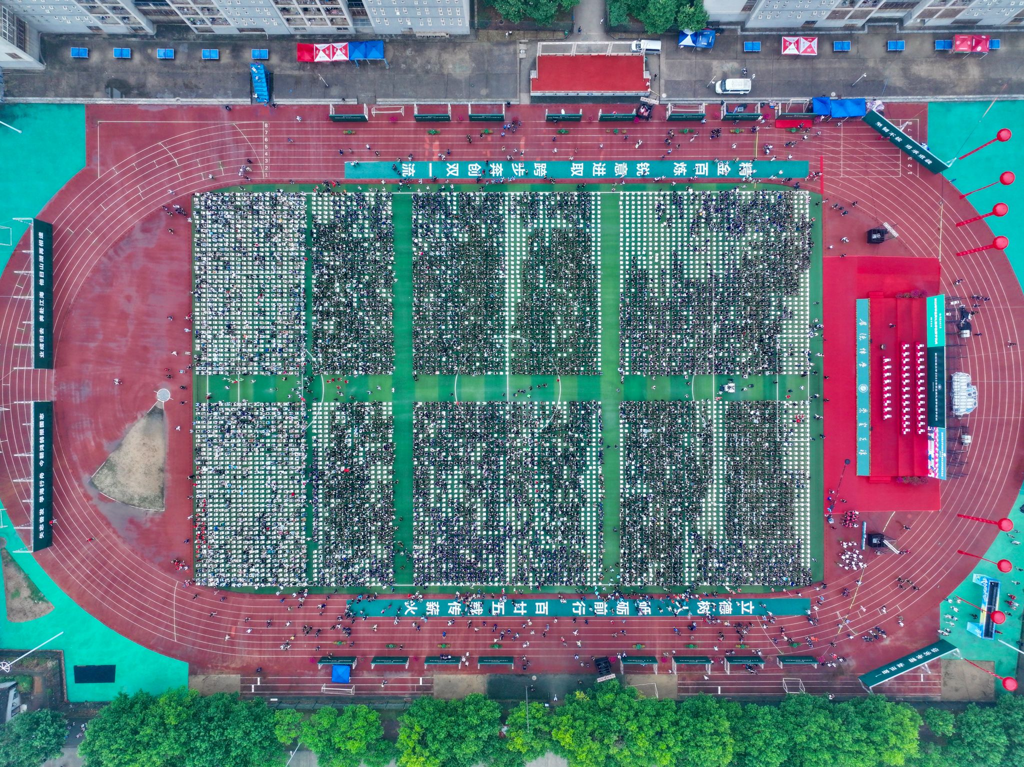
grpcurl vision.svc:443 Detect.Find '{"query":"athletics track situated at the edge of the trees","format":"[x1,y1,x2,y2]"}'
[0,101,1024,675]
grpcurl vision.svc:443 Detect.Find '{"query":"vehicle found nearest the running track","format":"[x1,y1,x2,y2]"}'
[716,78,752,94]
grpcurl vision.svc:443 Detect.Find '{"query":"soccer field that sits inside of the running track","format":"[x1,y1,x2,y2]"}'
[191,184,823,594]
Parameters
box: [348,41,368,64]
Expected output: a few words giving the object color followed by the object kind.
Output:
blue tent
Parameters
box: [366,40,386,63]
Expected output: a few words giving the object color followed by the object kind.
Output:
blue tent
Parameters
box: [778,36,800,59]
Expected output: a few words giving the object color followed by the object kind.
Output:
white tent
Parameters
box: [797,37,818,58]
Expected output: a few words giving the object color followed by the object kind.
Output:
white tent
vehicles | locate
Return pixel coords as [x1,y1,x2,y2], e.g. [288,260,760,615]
[716,78,752,94]
[631,40,661,56]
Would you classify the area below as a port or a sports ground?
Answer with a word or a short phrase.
sports ground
